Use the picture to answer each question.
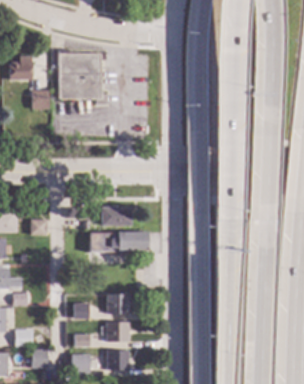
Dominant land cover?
paved ground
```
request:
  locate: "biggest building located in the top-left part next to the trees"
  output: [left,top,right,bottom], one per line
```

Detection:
[58,52,104,100]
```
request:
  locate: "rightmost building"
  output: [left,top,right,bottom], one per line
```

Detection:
[119,232,150,250]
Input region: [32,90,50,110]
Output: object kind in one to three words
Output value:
building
